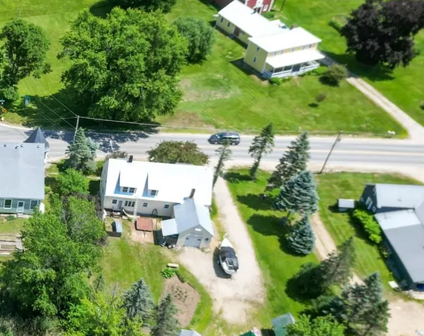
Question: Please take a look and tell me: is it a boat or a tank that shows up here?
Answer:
boat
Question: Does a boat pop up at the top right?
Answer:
No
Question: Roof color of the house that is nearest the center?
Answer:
white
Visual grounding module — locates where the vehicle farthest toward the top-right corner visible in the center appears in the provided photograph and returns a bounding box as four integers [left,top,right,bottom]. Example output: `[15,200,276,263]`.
[208,130,243,146]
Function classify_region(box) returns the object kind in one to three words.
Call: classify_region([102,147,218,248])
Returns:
house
